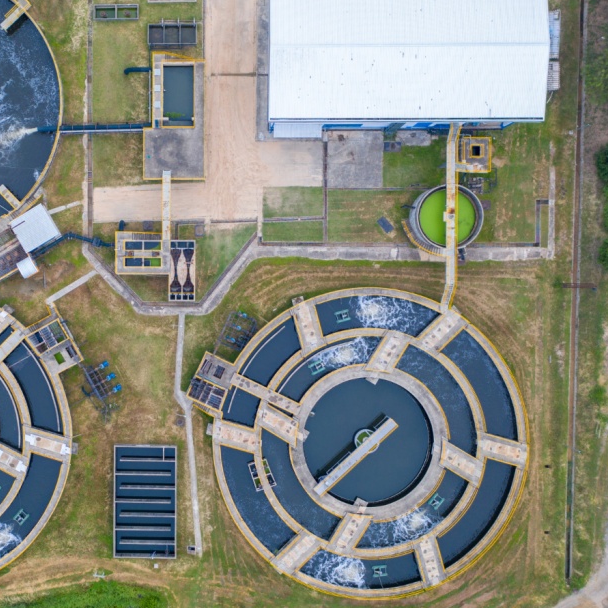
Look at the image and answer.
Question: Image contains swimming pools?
Yes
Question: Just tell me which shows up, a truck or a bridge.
bridge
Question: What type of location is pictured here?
industrial area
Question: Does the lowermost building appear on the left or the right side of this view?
left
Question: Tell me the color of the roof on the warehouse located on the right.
white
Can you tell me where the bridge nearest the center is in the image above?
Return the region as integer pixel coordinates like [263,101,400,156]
[292,295,326,352]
